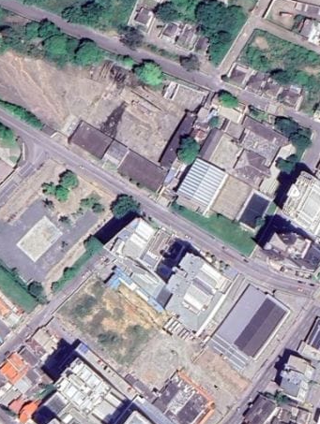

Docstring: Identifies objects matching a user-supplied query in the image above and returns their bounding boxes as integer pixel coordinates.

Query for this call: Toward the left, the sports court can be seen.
[16,216,63,263]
